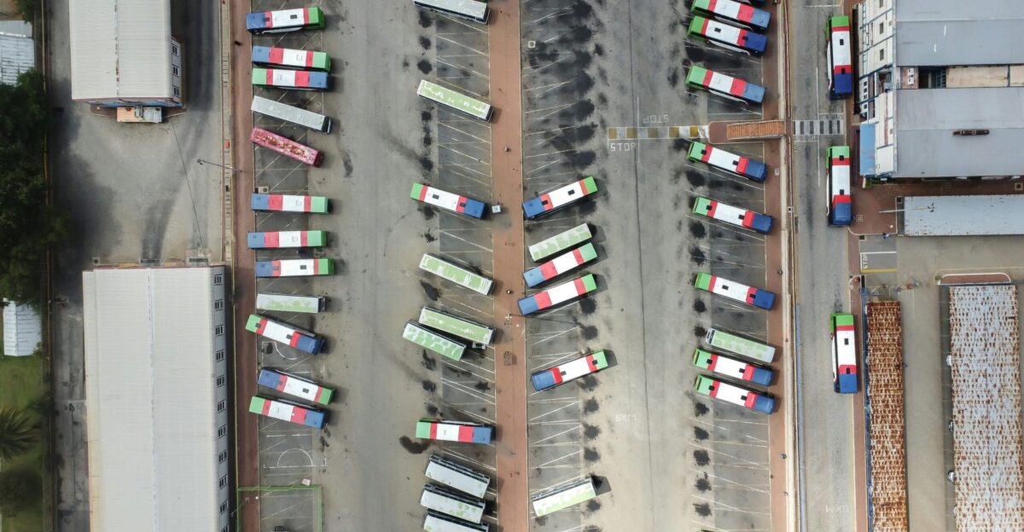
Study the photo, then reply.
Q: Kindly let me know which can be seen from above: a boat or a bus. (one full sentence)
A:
It is a bus that can be seen here.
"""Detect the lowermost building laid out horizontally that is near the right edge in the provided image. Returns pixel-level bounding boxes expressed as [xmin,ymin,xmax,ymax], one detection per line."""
[896,195,1024,236]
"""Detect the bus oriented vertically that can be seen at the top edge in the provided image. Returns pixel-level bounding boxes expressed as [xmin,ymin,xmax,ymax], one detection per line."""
[823,16,851,101]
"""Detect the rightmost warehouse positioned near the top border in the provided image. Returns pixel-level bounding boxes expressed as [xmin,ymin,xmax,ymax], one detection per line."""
[859,0,1024,186]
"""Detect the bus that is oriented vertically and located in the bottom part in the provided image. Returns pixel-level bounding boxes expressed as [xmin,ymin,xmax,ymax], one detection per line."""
[827,313,856,396]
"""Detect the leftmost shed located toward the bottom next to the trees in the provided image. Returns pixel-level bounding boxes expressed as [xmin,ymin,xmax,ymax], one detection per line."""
[3,298,50,357]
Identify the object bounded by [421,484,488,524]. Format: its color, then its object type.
white bus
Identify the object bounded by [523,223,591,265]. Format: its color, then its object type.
white bus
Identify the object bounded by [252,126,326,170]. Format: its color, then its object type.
pink bus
